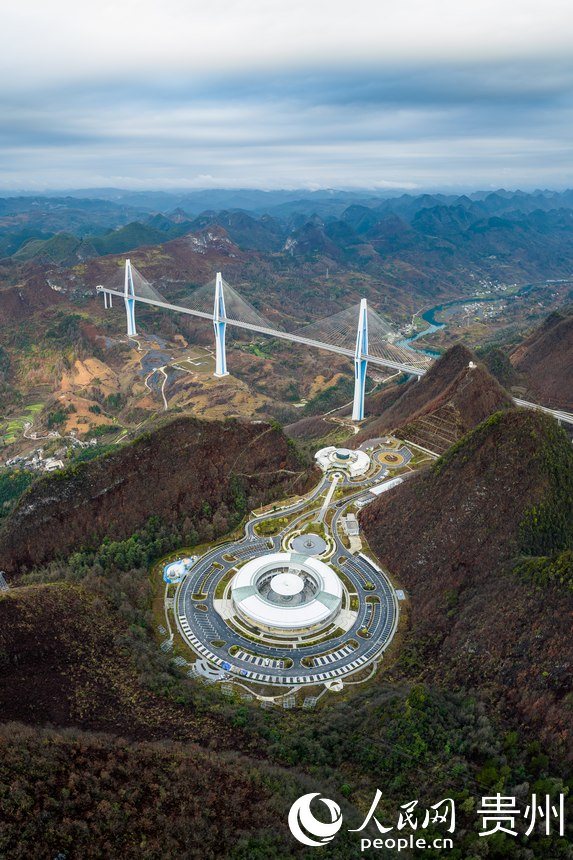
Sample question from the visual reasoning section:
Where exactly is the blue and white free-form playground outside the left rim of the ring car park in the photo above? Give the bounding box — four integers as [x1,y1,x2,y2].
[164,554,199,584]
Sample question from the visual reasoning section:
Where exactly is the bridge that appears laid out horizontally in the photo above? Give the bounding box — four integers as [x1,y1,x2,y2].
[83,259,421,416]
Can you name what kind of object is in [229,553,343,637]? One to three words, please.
building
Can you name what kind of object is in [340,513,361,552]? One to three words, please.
building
